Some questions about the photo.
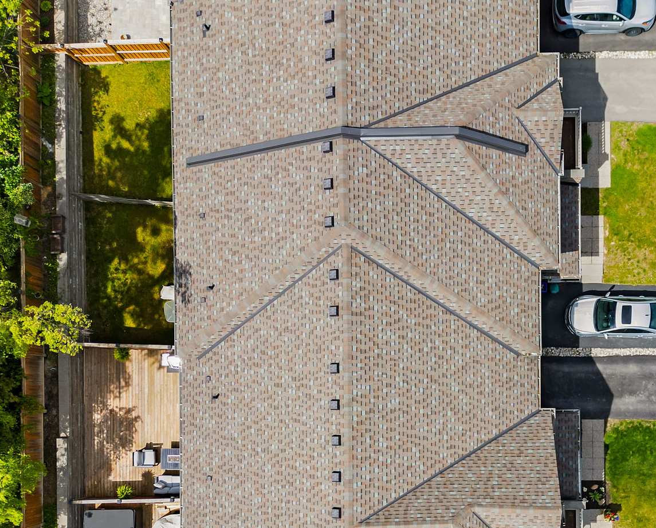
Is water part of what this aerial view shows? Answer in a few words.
No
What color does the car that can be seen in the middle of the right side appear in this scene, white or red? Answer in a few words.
white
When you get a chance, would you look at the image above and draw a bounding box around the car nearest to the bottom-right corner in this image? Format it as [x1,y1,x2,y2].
[565,290,656,340]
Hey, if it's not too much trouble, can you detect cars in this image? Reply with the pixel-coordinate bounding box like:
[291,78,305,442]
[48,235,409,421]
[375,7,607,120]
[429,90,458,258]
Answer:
[565,290,656,340]
[551,0,655,34]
